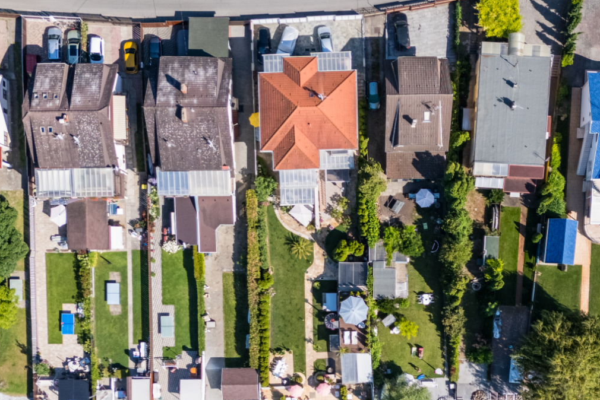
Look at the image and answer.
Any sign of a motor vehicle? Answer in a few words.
Yes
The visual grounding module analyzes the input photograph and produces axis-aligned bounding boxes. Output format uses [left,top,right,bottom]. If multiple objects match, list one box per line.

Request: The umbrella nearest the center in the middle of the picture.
[289,205,316,228]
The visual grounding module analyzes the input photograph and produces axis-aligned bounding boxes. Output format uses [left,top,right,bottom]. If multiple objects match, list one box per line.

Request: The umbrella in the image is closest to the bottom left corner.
[37,372,56,391]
